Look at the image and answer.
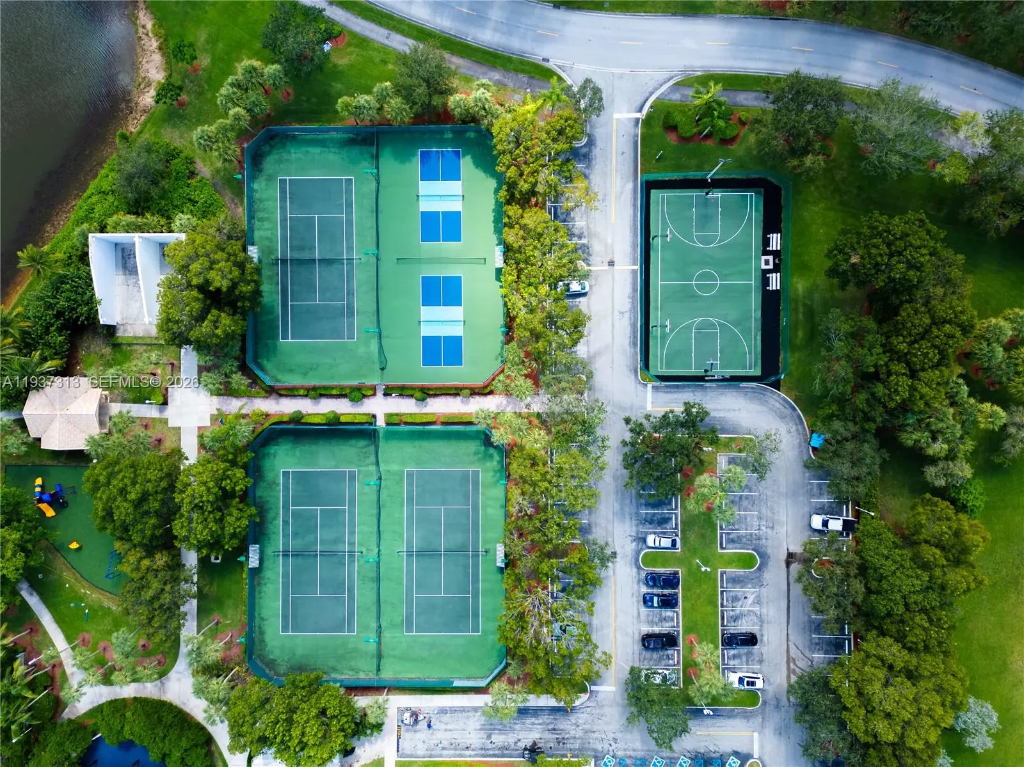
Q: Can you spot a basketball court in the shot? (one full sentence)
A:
Yes, a basketball court is visible in the scene.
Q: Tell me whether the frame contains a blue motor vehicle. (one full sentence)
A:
Yes, the photo shows a blue motor vehicle.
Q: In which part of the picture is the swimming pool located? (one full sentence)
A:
The swimming pool sits in the bottom left section of the image.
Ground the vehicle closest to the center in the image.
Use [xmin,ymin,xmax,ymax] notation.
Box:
[559,280,591,295]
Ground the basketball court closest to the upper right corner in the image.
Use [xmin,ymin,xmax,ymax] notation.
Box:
[650,188,763,375]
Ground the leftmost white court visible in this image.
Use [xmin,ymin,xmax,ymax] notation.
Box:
[86,231,211,338]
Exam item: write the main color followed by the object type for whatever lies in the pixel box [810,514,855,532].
white vehicle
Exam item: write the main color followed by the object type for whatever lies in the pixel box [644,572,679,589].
blue car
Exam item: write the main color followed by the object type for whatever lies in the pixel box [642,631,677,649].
black car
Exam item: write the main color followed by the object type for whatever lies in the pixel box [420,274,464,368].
blue sports court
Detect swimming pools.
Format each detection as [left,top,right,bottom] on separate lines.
[82,732,164,767]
